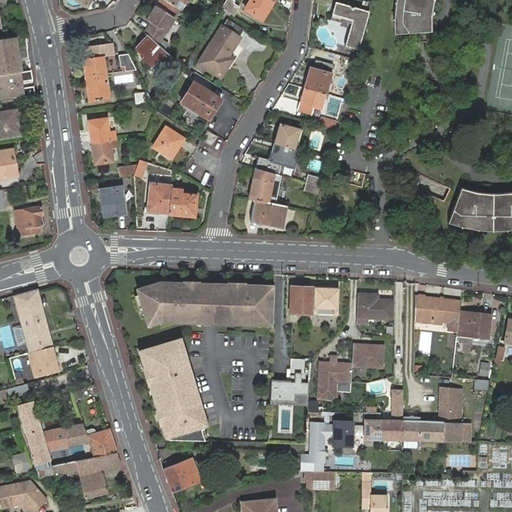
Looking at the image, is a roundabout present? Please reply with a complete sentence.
Yes, you can see a roundabout in this photo.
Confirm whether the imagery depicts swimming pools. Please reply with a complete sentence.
Yes, the picture does show a swimming pool.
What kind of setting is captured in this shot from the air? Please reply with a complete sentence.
What you see here is a residential area.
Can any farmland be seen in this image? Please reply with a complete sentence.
No, the picture contains no farmland.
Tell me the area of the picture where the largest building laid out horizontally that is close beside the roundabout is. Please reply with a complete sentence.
The largest building laid out horizontally that is close beside the roundabout is located in the center region of the scene.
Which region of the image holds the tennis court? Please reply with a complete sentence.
Look in the top right portion of the view to spot the tennis court.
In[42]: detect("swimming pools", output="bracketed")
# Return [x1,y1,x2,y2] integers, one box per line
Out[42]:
[278,405,294,434]
[373,479,392,490]
[334,456,355,466]
[306,158,322,173]
[504,346,512,358]
[316,26,338,48]
[68,445,85,456]
[12,358,23,372]
[366,379,388,396]
[65,0,82,8]
[322,94,344,120]
[446,454,476,468]
[309,130,324,151]
[0,324,16,350]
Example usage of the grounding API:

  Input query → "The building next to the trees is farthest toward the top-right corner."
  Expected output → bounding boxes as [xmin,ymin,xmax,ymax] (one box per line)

[394,0,436,36]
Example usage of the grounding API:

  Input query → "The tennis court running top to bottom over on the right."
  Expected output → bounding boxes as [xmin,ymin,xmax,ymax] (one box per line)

[485,23,512,111]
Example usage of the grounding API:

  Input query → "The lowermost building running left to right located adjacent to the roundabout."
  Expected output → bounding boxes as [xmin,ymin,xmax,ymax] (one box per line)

[135,282,276,329]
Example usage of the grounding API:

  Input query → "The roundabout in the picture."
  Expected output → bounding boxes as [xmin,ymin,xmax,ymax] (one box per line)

[47,215,118,301]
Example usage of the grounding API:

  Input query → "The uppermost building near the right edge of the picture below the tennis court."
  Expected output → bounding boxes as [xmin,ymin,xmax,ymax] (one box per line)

[448,190,512,234]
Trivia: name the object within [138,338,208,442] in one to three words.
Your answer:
building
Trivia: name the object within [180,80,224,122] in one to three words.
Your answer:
house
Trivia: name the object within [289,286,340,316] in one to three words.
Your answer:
house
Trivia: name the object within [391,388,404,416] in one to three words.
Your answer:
shed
